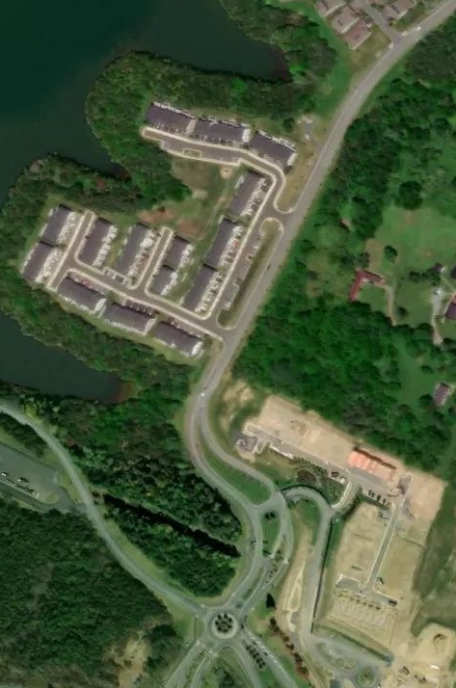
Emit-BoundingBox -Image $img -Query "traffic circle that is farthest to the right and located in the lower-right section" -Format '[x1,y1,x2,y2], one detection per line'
[350,662,380,688]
